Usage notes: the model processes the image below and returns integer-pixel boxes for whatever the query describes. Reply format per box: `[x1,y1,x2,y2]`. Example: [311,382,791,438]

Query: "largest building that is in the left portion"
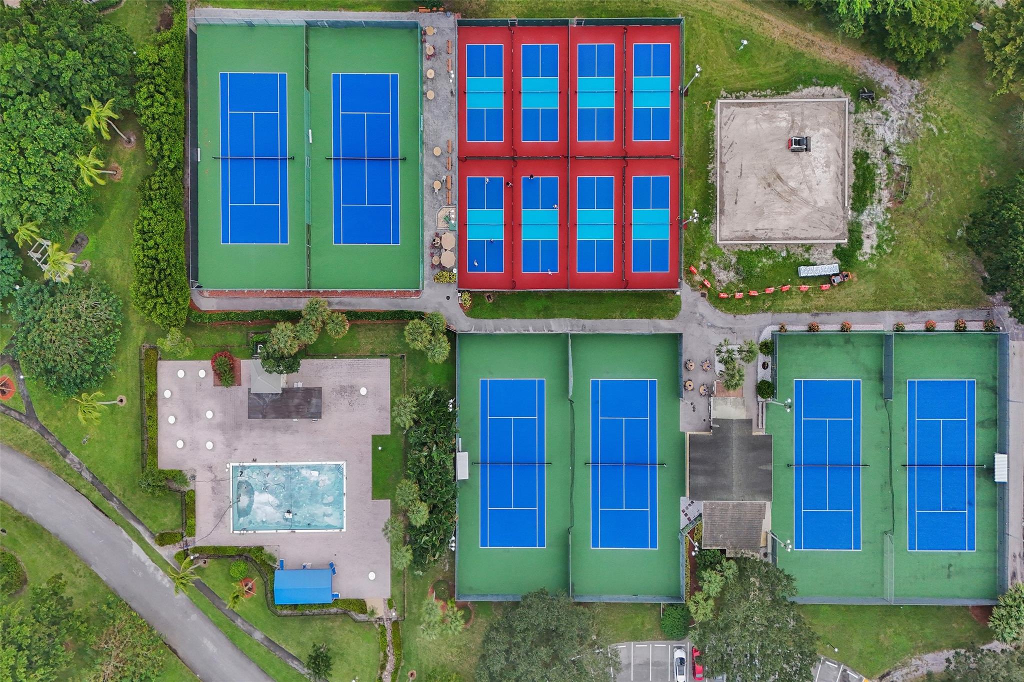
[248,387,324,419]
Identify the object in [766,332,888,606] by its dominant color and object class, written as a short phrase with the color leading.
green tennis court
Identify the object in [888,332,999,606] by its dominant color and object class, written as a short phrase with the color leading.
green tennis court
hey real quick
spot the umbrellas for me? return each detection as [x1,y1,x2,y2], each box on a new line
[439,249,456,270]
[440,231,456,251]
